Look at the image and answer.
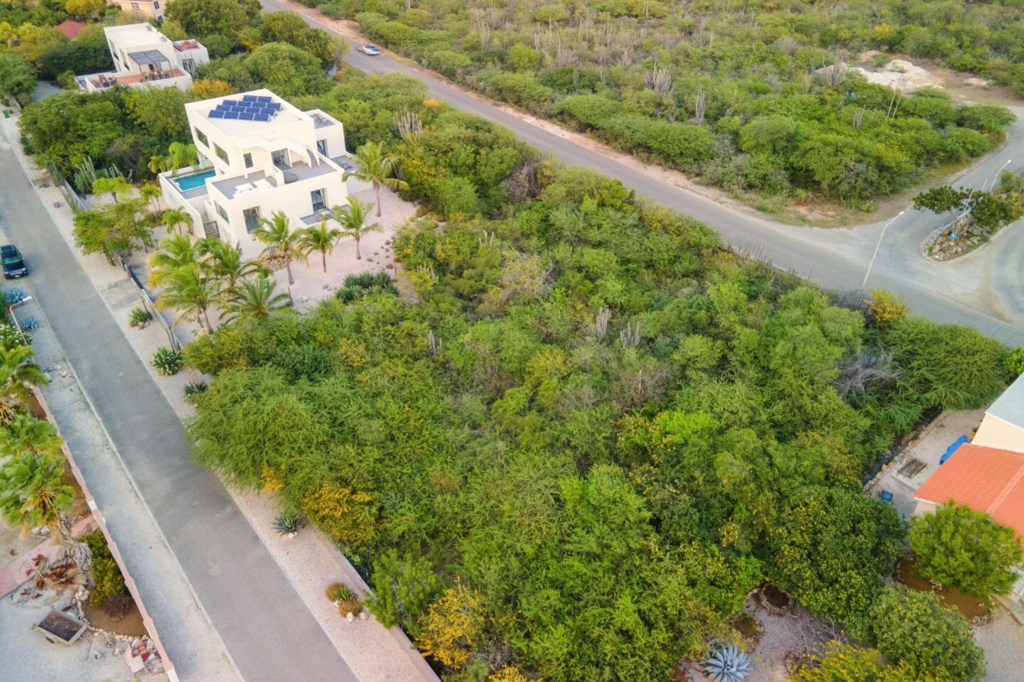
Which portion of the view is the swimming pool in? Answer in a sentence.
The swimming pool appears toward the top left of the photo.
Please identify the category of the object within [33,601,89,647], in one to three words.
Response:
trailer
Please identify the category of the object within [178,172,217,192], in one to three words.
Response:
swimming pool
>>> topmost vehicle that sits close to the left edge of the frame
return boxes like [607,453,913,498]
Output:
[0,239,31,279]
